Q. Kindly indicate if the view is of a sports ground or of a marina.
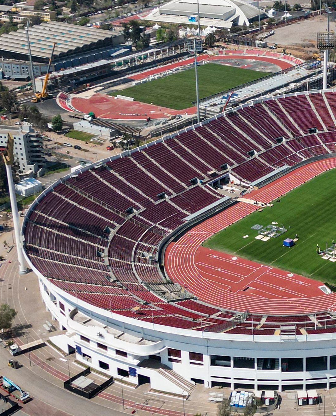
sports ground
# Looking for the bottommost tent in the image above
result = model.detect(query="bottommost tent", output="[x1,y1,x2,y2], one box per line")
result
[14,171,62,194]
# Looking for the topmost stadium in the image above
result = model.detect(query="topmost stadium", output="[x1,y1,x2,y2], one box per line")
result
[125,0,267,32]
